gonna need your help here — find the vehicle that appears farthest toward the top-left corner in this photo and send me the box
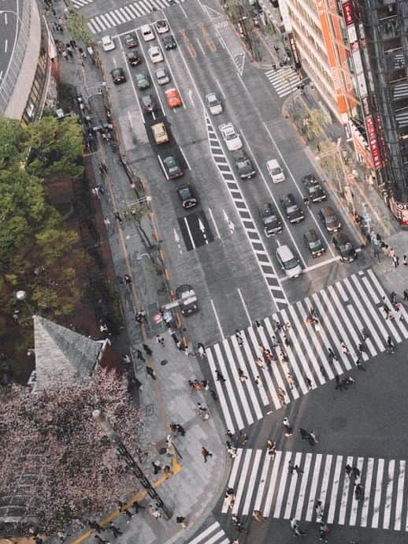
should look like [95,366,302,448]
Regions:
[100,36,116,53]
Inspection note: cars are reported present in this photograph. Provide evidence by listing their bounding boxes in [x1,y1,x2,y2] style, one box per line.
[221,126,242,149]
[234,153,255,180]
[259,205,283,236]
[100,36,116,53]
[163,156,184,182]
[147,48,164,64]
[123,33,139,50]
[264,158,287,185]
[138,94,157,113]
[206,93,224,115]
[154,69,171,87]
[125,51,141,69]
[331,233,359,268]
[134,72,152,90]
[140,26,157,42]
[110,69,128,87]
[161,35,178,52]
[316,199,344,237]
[279,194,305,224]
[164,89,182,109]
[151,123,170,145]
[301,227,328,262]
[301,174,327,203]
[274,239,302,278]
[176,183,198,211]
